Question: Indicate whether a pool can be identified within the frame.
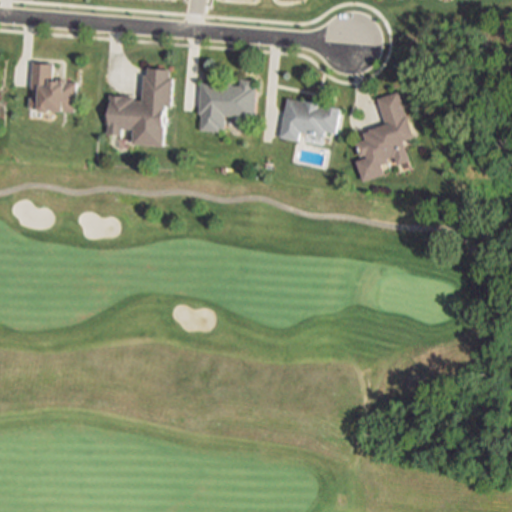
Yes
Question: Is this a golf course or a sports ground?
golf course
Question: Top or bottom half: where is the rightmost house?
top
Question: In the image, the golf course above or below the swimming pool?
below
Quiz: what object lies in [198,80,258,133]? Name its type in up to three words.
house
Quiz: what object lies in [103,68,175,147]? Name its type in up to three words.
house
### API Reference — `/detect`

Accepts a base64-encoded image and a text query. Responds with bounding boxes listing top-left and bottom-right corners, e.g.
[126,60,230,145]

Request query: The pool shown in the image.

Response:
[293,134,332,170]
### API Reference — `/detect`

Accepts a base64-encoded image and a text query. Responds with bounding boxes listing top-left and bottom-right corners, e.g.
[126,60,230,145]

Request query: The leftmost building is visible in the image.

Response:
[28,62,79,114]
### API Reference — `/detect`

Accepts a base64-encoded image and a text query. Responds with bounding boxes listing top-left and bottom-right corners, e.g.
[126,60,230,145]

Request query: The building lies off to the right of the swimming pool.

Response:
[354,92,418,182]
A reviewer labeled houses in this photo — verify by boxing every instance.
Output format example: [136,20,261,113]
[28,62,79,114]
[280,98,342,148]
[354,92,418,182]
[198,80,258,133]
[103,68,175,147]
